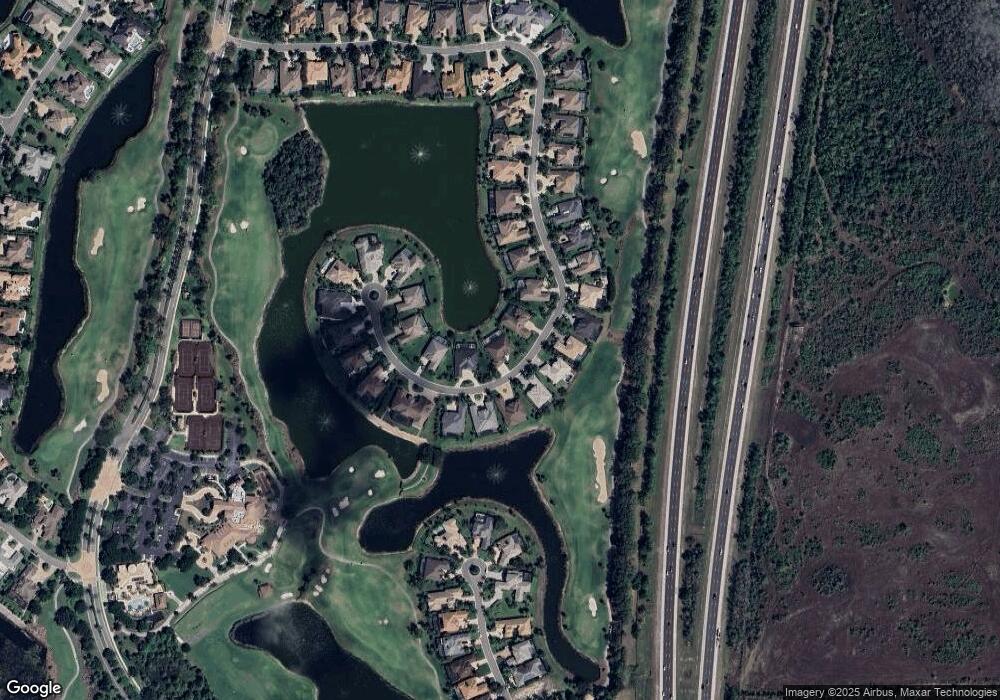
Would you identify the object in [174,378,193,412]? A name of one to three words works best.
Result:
tennis court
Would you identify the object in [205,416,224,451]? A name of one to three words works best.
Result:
tennis court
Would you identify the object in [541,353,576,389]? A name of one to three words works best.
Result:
house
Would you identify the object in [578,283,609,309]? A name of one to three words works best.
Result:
house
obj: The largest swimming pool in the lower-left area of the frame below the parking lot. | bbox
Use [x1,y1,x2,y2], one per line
[114,582,163,618]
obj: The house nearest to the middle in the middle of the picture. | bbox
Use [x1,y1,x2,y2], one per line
[482,328,512,361]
